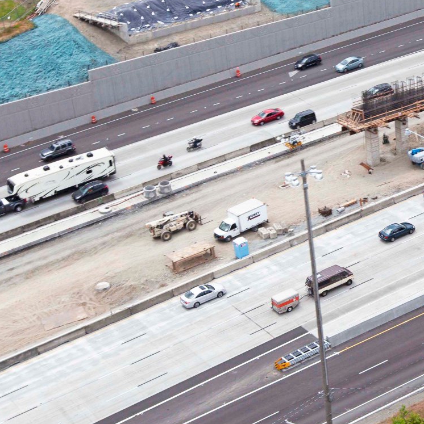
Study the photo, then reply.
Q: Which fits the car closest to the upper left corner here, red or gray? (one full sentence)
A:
The car closest to the upper left corner looks gray in the image.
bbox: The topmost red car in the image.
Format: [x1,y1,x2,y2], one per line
[250,108,285,126]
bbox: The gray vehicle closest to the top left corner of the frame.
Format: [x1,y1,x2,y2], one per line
[39,136,78,159]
